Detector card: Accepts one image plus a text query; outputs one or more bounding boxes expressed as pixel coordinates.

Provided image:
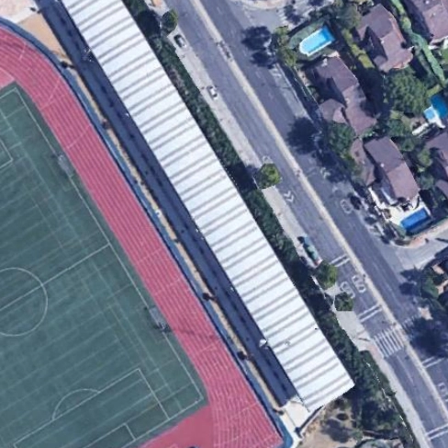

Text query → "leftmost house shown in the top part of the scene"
[314,57,376,135]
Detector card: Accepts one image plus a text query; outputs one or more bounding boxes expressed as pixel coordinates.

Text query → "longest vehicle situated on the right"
[303,236,323,262]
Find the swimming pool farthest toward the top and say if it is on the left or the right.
right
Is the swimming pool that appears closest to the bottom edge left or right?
right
